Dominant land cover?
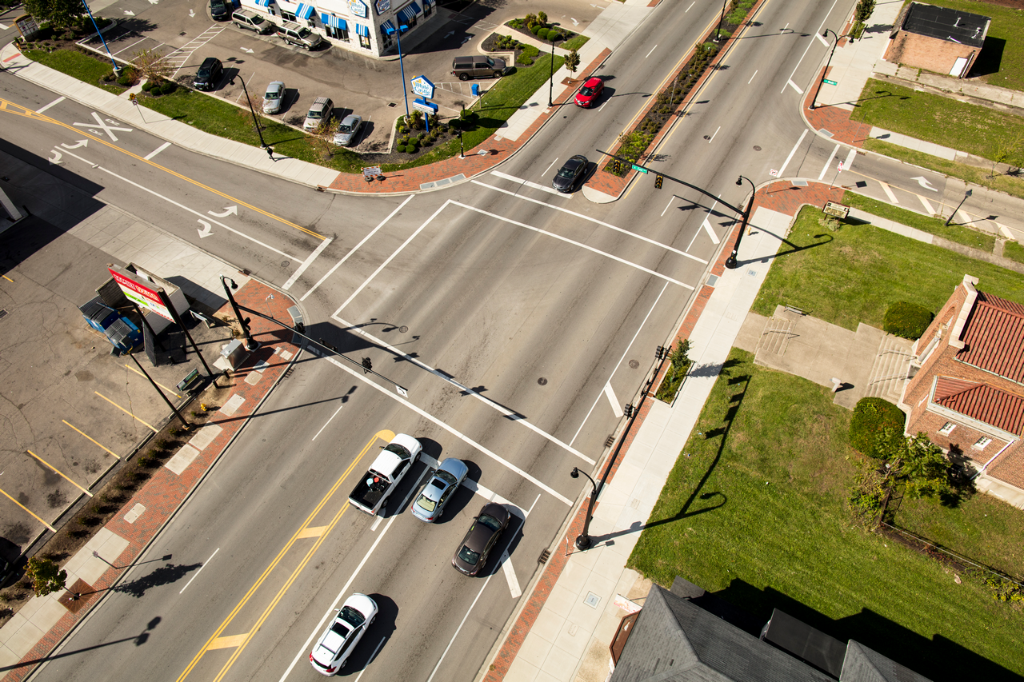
paved ground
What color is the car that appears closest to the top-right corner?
red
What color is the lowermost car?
white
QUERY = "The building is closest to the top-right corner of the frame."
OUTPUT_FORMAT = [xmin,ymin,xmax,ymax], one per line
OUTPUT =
[885,7,987,77]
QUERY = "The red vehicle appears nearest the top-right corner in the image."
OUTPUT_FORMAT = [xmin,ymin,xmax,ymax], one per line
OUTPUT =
[574,72,604,105]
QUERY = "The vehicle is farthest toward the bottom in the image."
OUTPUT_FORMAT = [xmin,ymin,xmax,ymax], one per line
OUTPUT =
[305,589,381,682]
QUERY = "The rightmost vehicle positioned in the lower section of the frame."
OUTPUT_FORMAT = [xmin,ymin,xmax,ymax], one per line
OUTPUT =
[450,501,512,582]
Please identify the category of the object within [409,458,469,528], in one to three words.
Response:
car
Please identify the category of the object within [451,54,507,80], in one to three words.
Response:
truck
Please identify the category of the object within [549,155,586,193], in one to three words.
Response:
car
